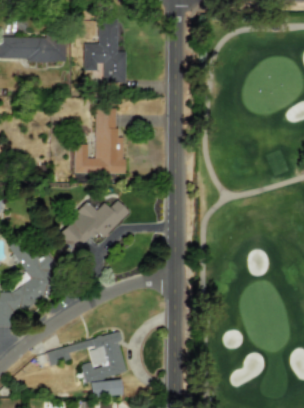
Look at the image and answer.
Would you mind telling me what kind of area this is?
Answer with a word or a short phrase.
golf course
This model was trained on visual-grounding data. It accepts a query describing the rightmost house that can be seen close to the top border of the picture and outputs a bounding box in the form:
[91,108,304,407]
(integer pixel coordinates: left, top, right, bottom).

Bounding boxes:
[84,20,126,82]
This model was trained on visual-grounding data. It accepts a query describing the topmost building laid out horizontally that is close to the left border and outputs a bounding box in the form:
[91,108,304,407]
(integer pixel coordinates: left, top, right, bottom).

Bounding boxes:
[0,34,66,62]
